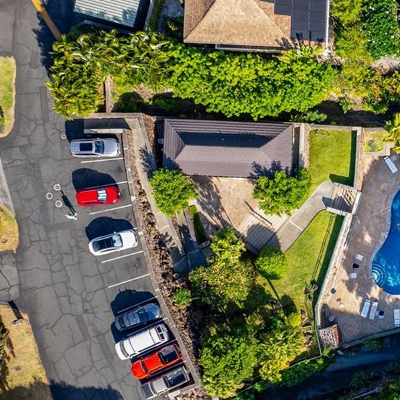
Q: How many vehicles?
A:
seven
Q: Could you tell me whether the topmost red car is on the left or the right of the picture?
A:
left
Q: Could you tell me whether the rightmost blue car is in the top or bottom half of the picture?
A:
bottom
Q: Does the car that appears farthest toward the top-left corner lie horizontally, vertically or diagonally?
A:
horizontally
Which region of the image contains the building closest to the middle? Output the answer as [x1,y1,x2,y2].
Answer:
[162,118,293,178]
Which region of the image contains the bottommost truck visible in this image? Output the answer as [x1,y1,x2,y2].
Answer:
[145,366,194,398]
